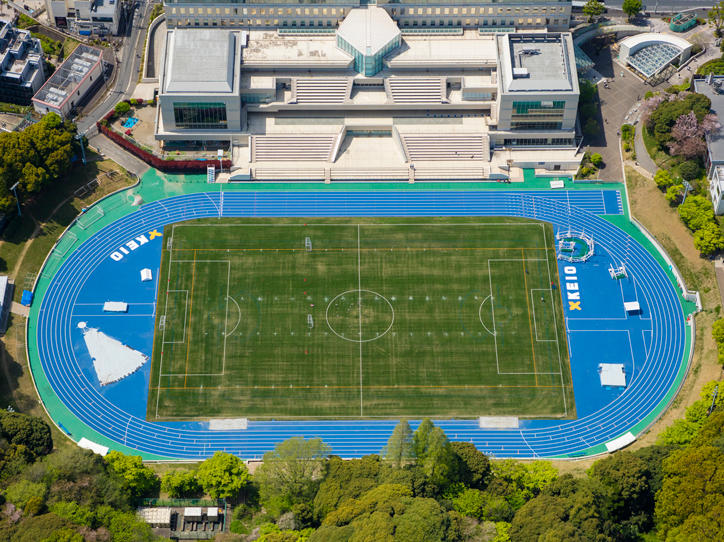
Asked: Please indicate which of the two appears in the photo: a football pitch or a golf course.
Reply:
football pitch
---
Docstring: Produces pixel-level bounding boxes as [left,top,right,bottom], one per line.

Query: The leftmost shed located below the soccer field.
[138,507,171,529]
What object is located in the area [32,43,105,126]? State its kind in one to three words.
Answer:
building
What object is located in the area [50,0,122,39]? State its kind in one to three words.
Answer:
building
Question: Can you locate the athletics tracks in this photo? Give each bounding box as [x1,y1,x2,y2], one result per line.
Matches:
[28,167,699,459]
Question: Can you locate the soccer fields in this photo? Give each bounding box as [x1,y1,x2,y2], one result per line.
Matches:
[146,217,577,421]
